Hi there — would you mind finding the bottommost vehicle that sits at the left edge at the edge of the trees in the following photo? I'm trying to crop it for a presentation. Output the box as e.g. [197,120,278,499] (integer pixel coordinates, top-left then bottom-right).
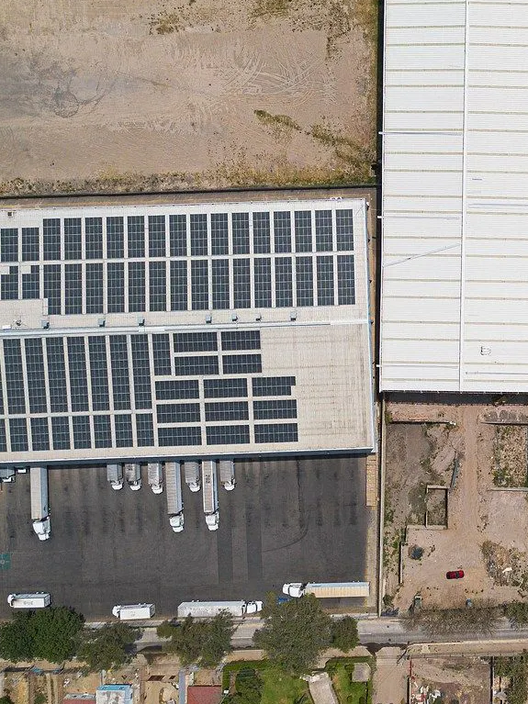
[4,593,51,609]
